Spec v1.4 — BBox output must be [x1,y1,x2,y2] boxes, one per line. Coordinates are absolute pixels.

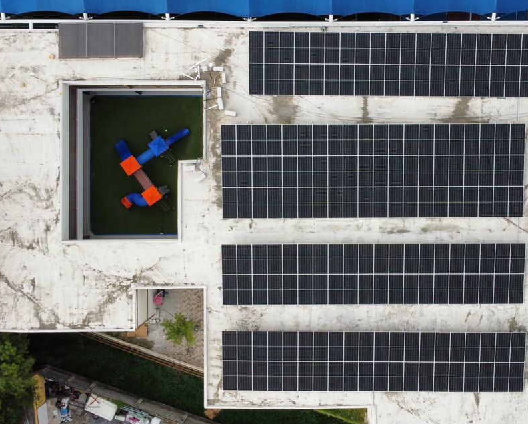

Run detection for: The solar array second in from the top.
[222,124,526,218]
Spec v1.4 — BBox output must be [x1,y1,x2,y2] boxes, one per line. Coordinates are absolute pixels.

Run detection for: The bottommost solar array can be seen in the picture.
[223,331,526,392]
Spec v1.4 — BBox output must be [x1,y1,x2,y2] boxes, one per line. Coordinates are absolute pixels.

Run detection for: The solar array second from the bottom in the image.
[222,244,526,304]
